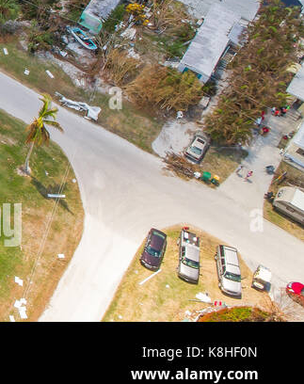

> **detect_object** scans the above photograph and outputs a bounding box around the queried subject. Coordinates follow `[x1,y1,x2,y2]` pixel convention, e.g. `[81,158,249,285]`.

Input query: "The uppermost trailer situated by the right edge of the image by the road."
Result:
[256,187,304,242]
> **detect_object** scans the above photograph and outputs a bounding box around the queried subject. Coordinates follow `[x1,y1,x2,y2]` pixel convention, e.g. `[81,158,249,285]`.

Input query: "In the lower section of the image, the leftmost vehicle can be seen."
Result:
[139,226,169,273]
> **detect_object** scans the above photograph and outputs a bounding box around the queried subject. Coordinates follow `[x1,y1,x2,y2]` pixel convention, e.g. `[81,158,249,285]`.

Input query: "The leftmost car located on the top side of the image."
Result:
[181,129,214,165]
